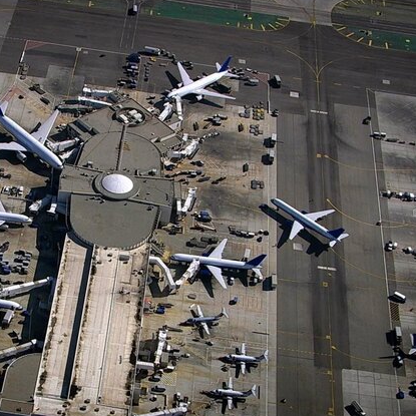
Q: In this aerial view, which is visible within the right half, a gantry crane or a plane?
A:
plane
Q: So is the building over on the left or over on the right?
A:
left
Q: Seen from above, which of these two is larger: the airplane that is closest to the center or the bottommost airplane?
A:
the airplane that is closest to the center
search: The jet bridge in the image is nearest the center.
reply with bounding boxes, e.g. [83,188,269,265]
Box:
[180,188,196,220]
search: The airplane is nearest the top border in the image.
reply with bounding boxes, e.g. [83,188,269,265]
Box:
[166,57,241,102]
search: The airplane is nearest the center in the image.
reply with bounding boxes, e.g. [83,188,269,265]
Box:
[170,238,266,287]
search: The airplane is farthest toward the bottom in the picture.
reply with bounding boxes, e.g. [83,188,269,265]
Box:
[199,373,260,410]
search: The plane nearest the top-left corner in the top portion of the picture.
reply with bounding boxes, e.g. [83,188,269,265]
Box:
[0,100,63,170]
